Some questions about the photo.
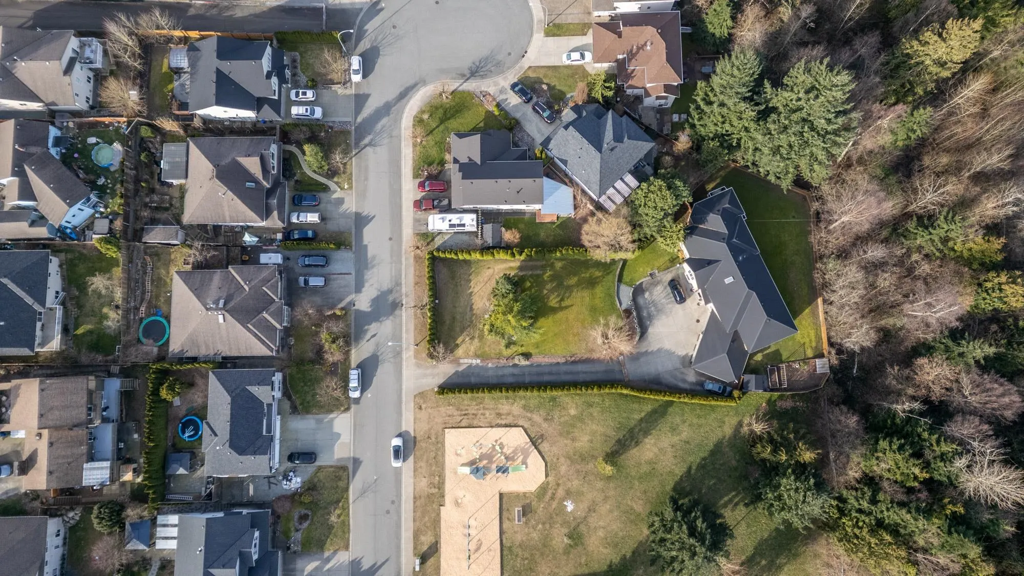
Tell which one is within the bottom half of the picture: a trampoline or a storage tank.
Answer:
trampoline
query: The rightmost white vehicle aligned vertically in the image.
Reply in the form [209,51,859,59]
[390,436,404,466]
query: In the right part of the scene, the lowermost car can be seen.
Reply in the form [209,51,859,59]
[702,379,733,397]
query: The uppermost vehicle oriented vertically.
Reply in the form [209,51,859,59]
[349,55,363,84]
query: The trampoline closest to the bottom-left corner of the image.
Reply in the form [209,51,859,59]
[178,416,203,441]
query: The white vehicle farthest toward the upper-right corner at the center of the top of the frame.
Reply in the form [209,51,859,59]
[562,50,592,65]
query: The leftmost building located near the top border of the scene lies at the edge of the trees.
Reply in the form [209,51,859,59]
[0,25,118,113]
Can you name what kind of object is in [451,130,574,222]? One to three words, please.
house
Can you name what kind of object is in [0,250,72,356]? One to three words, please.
house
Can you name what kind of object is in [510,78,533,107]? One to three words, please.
car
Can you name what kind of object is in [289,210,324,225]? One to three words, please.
vehicle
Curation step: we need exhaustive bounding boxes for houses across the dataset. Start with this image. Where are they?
[168,265,295,361]
[157,504,282,576]
[0,375,137,490]
[539,103,656,211]
[0,250,72,356]
[592,11,692,101]
[0,118,108,239]
[202,369,285,476]
[680,185,799,383]
[451,130,574,222]
[170,35,291,121]
[163,137,289,227]
[0,25,118,113]
[0,509,67,576]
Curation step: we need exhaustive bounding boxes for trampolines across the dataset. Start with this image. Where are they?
[138,315,170,346]
[178,416,203,441]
